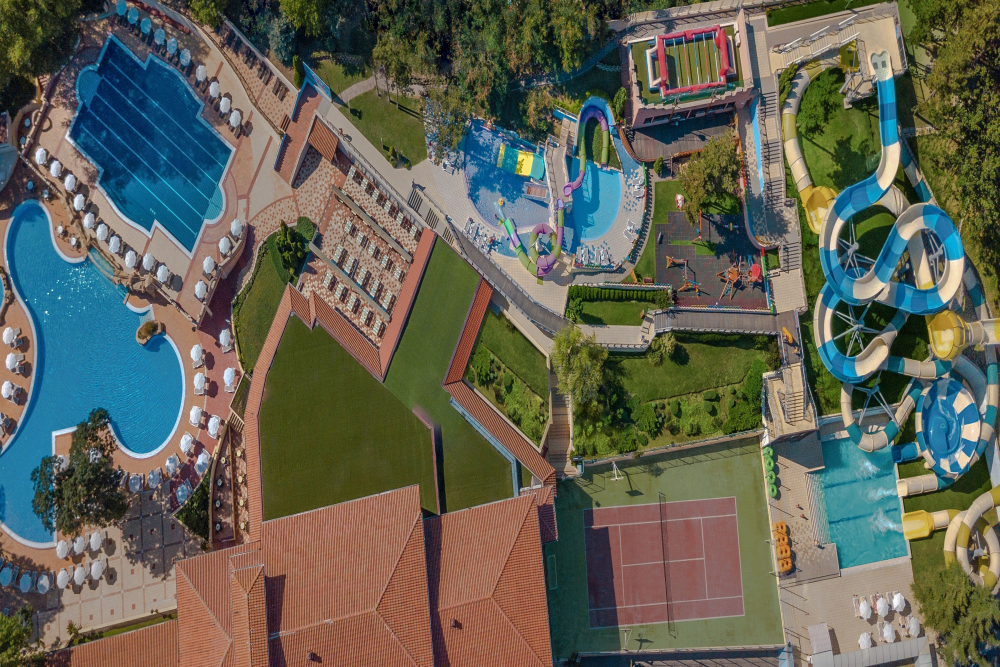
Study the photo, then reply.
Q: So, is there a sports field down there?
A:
Yes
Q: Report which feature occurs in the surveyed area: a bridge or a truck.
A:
bridge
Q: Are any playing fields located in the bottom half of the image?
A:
No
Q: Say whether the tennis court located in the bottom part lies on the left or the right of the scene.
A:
right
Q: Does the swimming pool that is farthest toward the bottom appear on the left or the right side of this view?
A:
right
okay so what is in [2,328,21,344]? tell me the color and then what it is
white umbrella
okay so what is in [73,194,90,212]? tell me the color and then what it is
white umbrella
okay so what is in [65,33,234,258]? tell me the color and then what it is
blue swimming pool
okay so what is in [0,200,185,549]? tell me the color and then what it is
blue swimming pool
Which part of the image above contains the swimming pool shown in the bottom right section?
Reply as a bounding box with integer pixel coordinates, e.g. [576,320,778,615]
[818,434,911,569]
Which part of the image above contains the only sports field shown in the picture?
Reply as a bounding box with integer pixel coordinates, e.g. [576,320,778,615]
[643,24,746,104]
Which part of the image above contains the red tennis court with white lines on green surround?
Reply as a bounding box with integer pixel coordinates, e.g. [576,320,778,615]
[553,441,782,656]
